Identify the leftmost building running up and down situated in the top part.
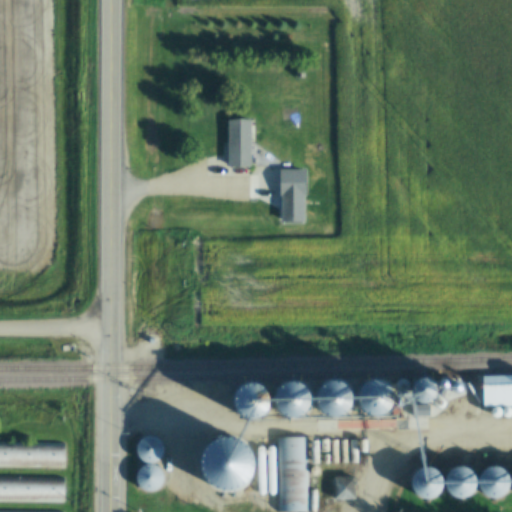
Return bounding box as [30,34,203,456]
[229,119,252,167]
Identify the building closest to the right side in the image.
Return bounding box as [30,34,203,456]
[483,376,512,404]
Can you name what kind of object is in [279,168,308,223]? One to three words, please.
house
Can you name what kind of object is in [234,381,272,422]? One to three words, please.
silo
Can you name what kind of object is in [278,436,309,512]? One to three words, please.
shed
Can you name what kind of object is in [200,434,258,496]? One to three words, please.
silo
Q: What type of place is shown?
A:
industrial area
